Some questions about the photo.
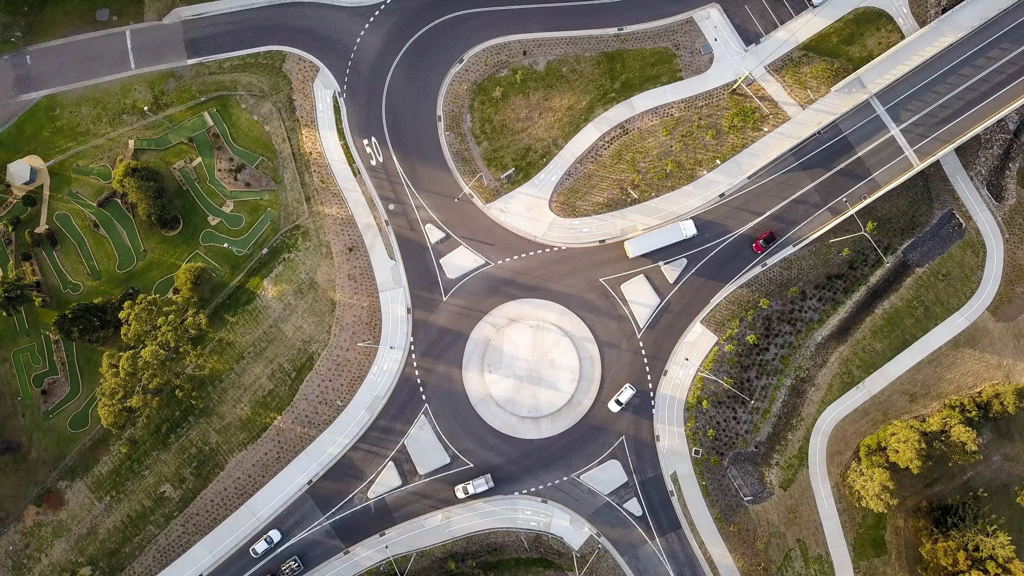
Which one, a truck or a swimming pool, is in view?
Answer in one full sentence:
The image shows a truck.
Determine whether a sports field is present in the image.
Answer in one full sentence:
No, there appears to be no sports field in this shot.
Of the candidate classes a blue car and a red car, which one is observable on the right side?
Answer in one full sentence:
The feature located on the right side is a red car.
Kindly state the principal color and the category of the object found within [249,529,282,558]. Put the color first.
white car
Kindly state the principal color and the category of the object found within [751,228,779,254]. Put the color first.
red car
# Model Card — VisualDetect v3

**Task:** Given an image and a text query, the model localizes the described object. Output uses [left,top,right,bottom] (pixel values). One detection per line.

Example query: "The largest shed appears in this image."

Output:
[6,159,43,187]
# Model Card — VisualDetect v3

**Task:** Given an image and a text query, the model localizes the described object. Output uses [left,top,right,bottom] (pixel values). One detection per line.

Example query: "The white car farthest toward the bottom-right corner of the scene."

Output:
[607,381,638,413]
